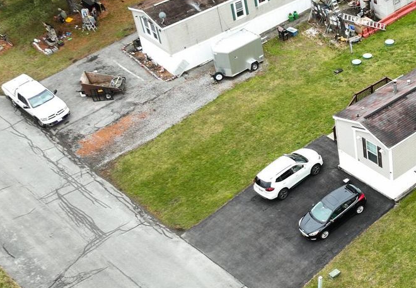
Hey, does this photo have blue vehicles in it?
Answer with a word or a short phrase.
No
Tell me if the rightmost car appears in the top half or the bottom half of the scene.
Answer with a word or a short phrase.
bottom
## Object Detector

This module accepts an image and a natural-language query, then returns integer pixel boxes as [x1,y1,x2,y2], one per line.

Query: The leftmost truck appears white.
[0,76,67,126]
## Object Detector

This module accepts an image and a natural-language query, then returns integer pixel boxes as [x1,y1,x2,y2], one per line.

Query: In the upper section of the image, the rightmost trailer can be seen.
[200,27,264,78]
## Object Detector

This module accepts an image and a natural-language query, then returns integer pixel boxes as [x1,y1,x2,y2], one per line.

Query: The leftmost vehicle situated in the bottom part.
[254,150,323,201]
